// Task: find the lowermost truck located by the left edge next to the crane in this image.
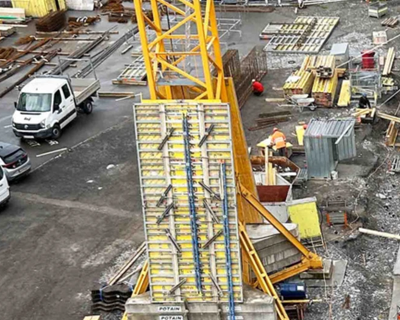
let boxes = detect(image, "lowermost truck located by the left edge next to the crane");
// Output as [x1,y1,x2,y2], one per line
[17,67,103,133]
